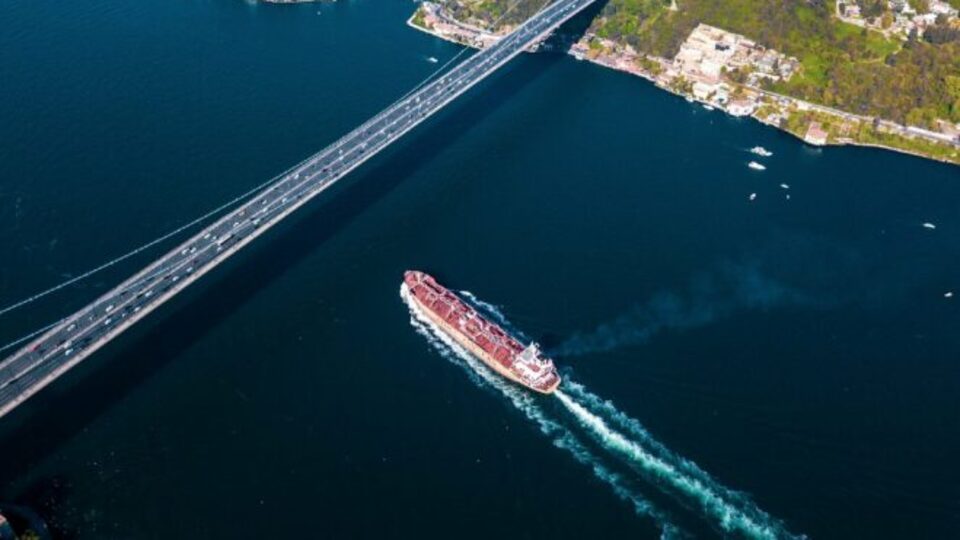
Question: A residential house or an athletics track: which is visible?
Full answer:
Of the two, only a residential house appears.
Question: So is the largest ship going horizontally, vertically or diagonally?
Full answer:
From this overhead view, the largest ship appears to run diagonally.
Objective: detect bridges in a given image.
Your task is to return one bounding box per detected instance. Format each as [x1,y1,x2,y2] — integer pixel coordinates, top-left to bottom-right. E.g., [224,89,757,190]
[0,0,624,413]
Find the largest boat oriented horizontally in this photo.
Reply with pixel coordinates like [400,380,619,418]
[748,142,772,155]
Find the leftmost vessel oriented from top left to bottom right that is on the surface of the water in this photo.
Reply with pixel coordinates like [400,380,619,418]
[401,268,568,395]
